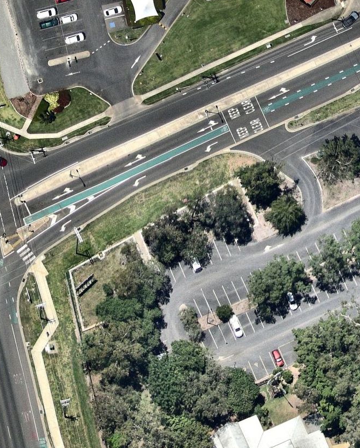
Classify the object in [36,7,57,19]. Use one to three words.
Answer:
vehicle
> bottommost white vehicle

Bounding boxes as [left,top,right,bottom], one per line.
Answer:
[231,316,244,337]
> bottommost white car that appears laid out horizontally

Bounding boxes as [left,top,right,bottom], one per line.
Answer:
[65,32,86,44]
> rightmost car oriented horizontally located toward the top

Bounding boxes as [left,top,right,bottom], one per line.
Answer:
[103,4,123,16]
